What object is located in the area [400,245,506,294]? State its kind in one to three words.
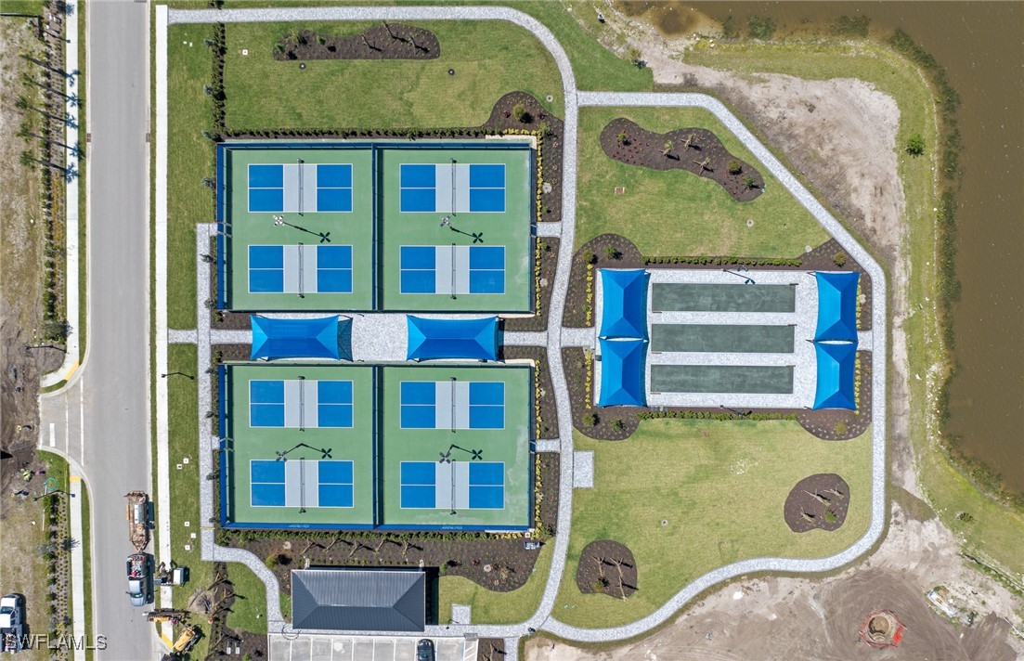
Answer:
sports court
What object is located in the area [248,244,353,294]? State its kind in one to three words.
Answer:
sports court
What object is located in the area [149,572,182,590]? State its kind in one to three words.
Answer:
work vehicle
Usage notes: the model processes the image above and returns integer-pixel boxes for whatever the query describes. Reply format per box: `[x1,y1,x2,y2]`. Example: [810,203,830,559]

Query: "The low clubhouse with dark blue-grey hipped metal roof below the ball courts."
[291,567,426,632]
